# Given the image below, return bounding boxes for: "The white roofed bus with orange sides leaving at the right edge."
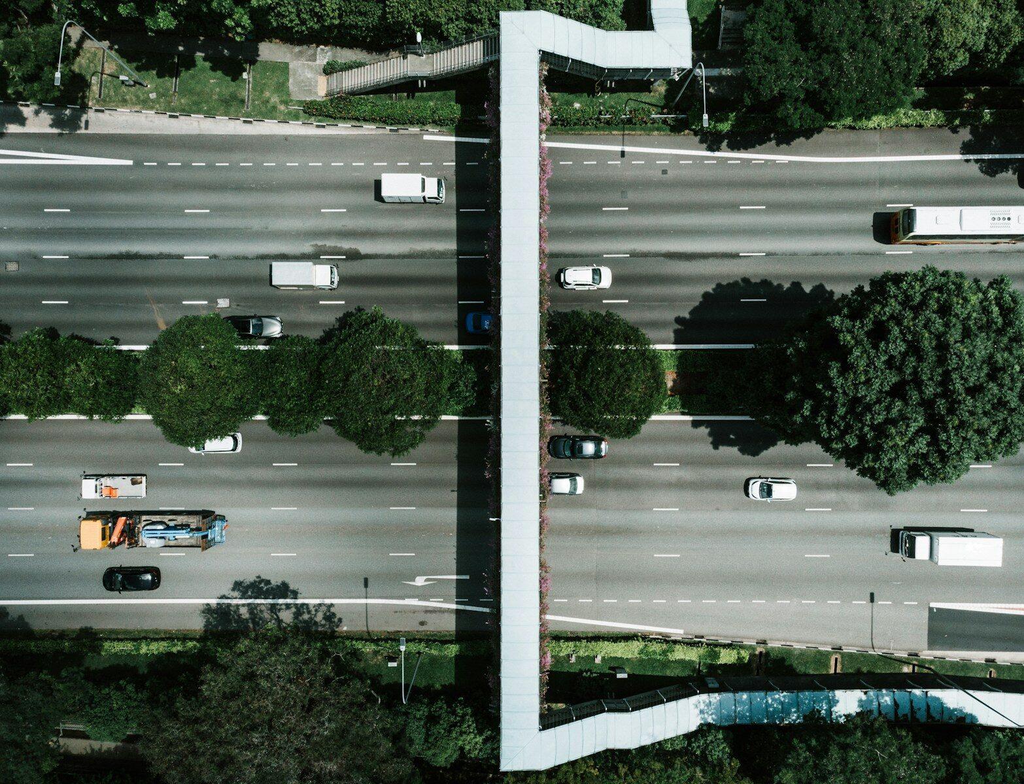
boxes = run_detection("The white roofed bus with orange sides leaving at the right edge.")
[890,206,1024,243]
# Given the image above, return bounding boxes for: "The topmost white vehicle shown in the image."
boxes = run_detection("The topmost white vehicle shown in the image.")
[381,171,447,201]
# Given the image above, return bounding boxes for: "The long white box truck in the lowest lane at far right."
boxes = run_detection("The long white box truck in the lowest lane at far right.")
[895,531,1005,567]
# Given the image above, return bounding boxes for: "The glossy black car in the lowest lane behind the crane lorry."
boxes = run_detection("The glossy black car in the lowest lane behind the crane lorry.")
[103,567,162,595]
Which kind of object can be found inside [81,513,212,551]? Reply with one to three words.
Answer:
truck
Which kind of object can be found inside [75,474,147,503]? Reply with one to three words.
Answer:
truck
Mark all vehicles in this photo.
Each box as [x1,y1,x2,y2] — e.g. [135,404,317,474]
[81,513,212,551]
[188,432,242,456]
[223,312,282,339]
[546,472,585,495]
[103,567,162,595]
[558,263,614,289]
[75,474,147,503]
[890,206,1024,243]
[465,311,494,334]
[747,477,801,503]
[549,434,609,461]
[895,531,1005,567]
[381,171,447,201]
[270,261,341,290]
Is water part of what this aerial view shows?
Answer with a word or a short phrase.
No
